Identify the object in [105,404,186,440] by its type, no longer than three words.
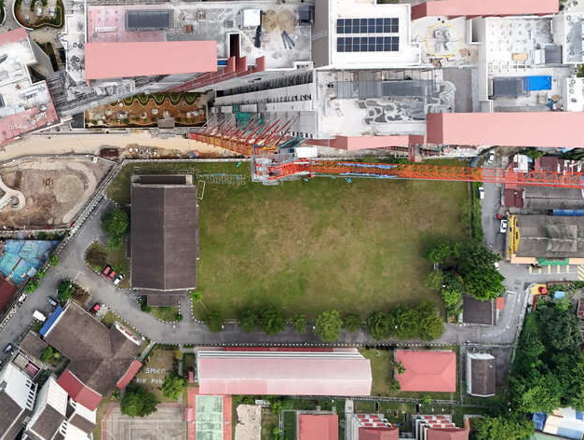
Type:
sports court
